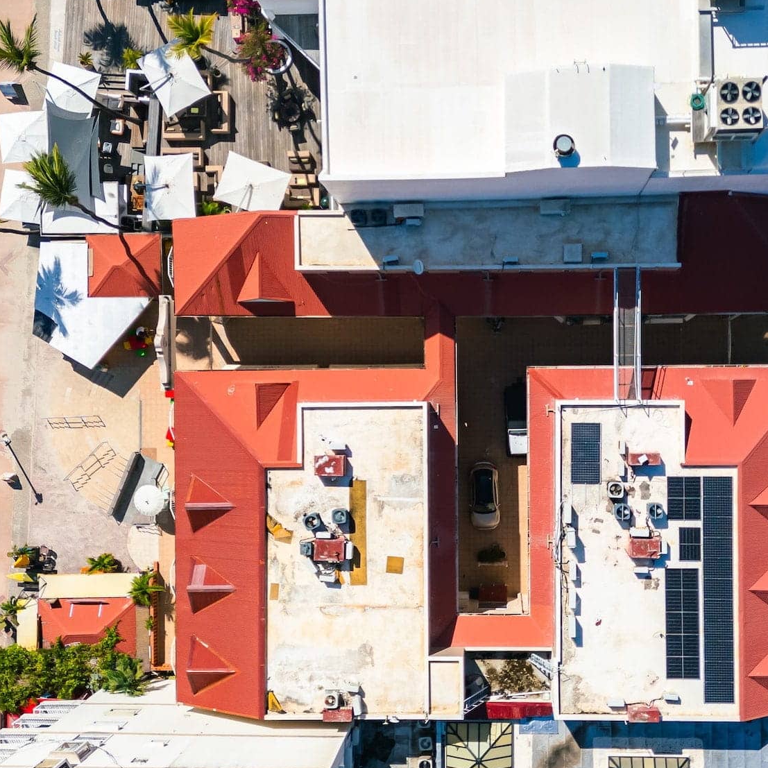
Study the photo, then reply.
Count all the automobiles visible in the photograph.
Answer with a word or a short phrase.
two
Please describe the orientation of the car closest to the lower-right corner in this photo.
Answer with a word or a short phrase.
from top to bottom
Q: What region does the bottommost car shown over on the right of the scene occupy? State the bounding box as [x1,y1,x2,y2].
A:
[467,462,502,529]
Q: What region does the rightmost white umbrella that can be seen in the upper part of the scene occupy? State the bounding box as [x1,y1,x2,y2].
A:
[213,151,292,214]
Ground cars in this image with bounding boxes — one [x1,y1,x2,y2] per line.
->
[467,462,502,529]
[503,385,527,456]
